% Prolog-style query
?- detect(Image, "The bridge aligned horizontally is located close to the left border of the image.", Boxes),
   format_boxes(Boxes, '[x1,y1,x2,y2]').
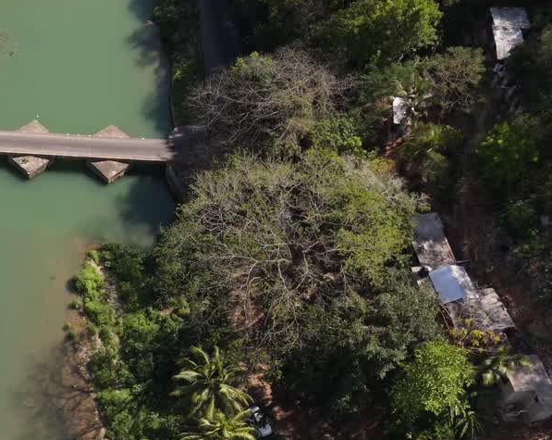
[0,120,174,184]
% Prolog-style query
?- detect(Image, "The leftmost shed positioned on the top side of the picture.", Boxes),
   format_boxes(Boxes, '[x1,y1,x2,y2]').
[389,97,412,134]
